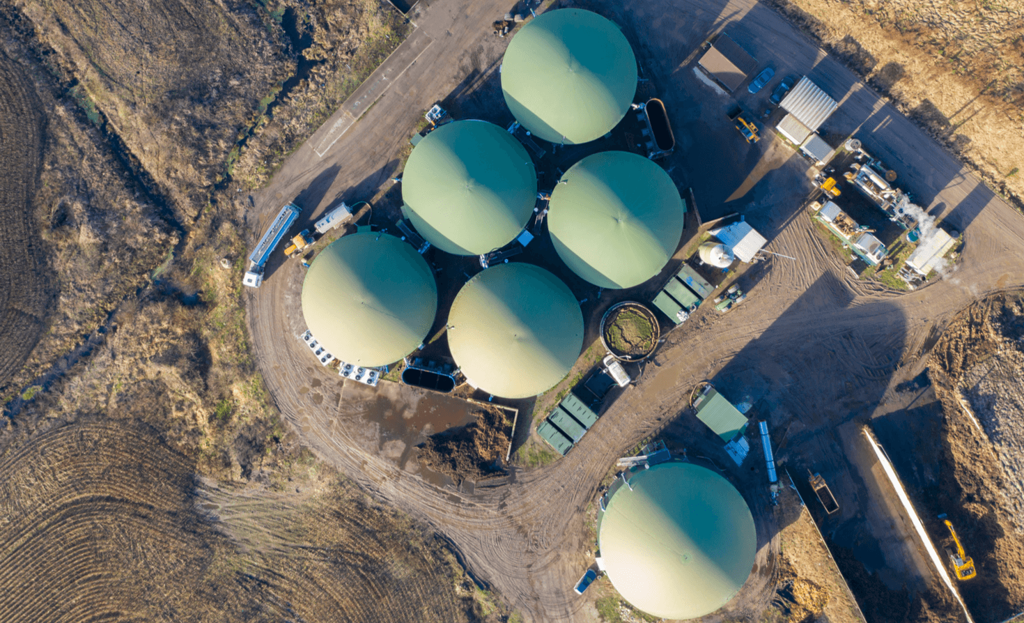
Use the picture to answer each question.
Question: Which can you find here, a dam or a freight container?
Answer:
freight container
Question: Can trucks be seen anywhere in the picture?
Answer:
Yes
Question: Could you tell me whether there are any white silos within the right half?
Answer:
Yes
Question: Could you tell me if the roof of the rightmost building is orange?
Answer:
No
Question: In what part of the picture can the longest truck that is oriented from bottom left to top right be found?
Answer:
left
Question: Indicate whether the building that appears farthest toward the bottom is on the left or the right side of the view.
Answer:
right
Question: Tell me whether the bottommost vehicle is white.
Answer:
No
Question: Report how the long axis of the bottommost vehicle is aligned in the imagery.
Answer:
on a diagonal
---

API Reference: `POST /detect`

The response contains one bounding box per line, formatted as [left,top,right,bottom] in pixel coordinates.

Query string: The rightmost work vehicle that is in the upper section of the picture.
[811,173,839,201]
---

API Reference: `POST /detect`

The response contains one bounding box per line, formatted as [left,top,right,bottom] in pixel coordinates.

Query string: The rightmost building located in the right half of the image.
[897,228,956,277]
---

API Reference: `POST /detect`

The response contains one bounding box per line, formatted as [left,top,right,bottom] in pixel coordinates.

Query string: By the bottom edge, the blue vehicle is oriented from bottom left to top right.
[574,566,599,594]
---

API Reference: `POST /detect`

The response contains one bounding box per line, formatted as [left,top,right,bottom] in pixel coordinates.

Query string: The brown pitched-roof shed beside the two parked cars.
[697,33,758,92]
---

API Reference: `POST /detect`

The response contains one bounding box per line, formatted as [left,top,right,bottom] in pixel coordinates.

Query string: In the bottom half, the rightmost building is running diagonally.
[679,377,748,443]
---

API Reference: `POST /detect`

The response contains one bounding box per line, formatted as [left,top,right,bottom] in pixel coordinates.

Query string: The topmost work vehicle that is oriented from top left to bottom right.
[723,105,762,145]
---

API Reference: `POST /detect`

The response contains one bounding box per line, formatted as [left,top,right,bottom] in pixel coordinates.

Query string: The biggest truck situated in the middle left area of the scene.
[235,201,307,292]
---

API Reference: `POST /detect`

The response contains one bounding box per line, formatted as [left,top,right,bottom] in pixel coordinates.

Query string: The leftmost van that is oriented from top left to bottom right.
[602,354,630,387]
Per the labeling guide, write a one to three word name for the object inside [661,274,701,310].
shipping container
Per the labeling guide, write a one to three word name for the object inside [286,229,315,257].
work vehicle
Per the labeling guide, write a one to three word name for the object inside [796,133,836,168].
building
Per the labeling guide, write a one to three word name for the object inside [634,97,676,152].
storage tank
